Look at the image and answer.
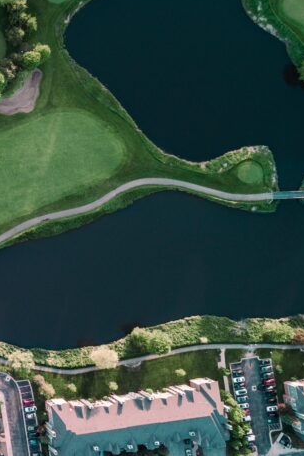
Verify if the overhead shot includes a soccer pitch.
No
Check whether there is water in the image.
Yes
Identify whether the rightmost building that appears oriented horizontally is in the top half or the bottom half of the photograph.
bottom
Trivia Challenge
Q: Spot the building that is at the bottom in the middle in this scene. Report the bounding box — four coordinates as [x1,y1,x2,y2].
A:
[42,367,228,456]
